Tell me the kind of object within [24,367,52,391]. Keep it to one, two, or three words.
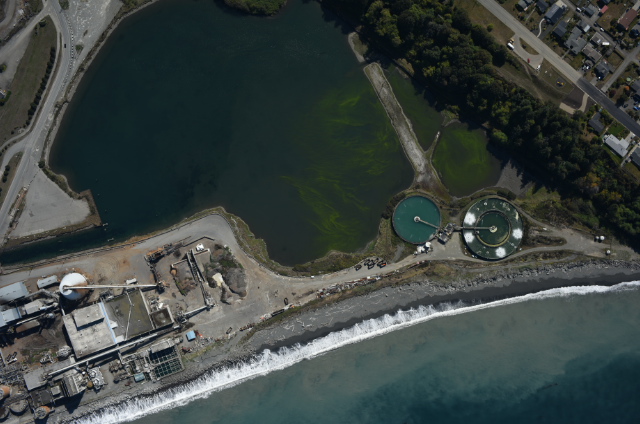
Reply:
building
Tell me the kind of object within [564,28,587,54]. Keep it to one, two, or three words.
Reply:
house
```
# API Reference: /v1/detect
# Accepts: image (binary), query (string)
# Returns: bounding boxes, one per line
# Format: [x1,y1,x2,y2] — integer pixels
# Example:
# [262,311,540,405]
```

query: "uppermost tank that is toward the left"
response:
[57,272,90,302]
